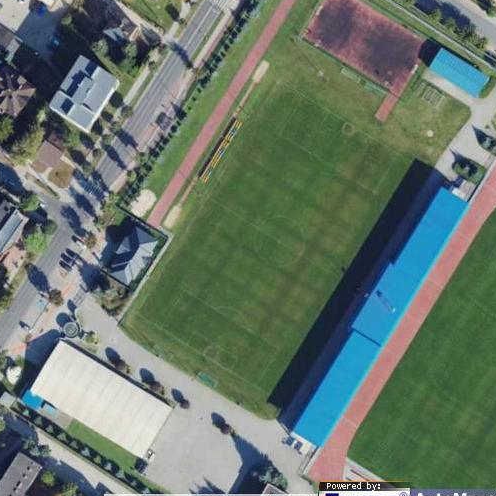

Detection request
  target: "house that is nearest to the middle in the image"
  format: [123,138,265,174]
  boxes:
[109,222,160,287]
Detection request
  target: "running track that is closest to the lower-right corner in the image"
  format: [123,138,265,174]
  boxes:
[314,165,496,494]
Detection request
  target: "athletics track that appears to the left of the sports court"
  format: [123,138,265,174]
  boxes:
[147,0,295,229]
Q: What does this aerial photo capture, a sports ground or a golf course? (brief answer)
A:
sports ground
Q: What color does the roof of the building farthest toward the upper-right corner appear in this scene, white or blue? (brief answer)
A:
blue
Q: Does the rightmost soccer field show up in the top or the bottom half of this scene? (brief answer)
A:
bottom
